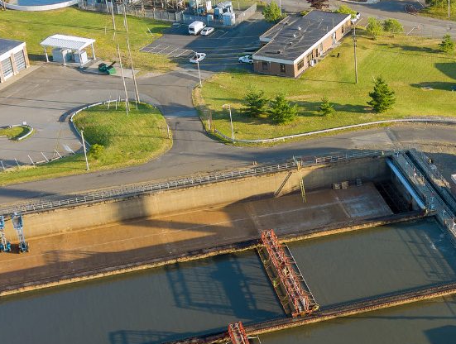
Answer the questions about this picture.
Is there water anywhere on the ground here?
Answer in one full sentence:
Yes, there is water in the image.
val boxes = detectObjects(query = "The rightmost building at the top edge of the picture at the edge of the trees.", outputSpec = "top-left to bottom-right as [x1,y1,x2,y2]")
[238,10,360,79]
